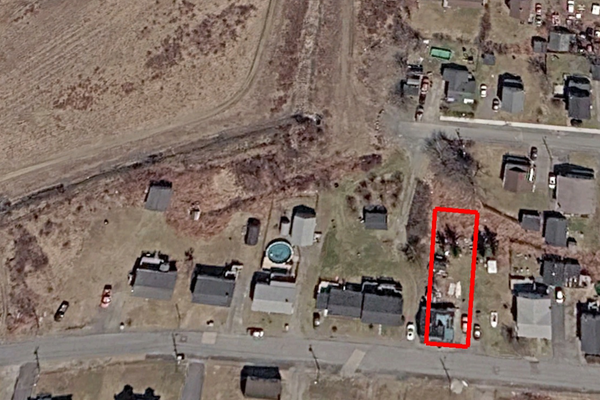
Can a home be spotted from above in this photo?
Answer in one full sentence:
Yes, you can see a home in this photo.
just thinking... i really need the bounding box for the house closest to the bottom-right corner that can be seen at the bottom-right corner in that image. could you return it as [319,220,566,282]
[574,301,600,365]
